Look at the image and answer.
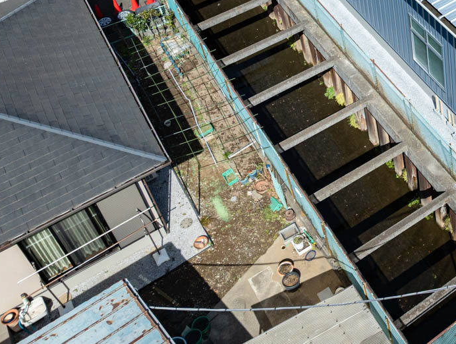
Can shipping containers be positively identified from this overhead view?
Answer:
No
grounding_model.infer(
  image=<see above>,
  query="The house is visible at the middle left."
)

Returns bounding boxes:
[0,0,195,336]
